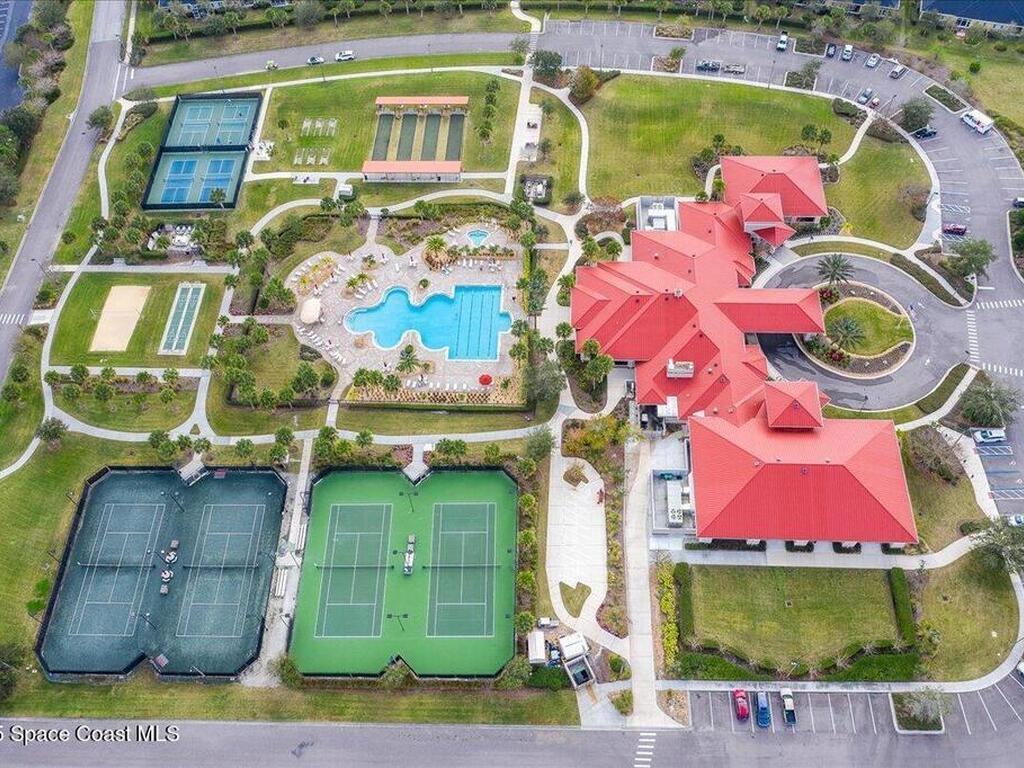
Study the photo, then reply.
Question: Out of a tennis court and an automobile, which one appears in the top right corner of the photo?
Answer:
automobile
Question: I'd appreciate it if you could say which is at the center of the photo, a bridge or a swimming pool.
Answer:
swimming pool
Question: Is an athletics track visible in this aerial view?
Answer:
No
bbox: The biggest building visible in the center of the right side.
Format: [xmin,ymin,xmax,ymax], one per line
[571,156,919,548]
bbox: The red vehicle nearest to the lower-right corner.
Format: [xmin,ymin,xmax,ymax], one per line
[733,689,749,721]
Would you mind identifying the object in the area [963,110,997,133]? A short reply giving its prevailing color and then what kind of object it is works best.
white truck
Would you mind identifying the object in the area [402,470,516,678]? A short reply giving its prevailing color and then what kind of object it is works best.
green tennis court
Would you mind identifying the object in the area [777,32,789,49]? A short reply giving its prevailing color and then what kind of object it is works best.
white vehicle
